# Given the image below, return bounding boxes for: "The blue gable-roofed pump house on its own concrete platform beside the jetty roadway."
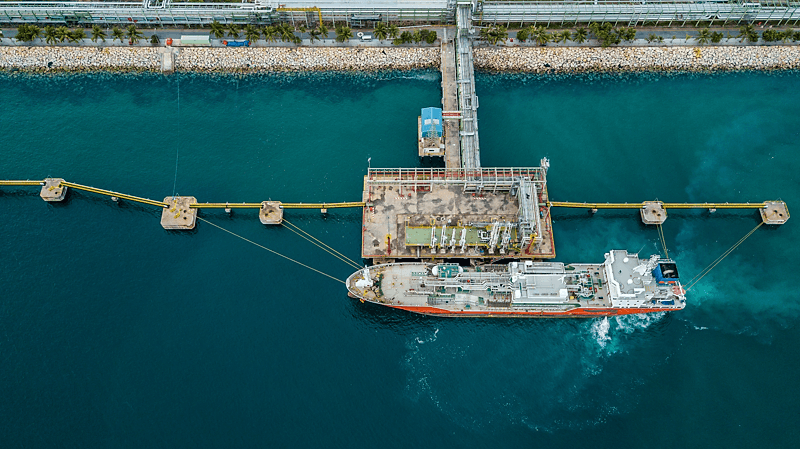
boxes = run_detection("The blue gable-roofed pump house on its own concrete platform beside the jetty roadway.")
[417,106,444,166]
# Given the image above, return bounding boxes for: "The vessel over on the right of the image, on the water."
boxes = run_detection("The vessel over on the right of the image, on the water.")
[346,229,687,316]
